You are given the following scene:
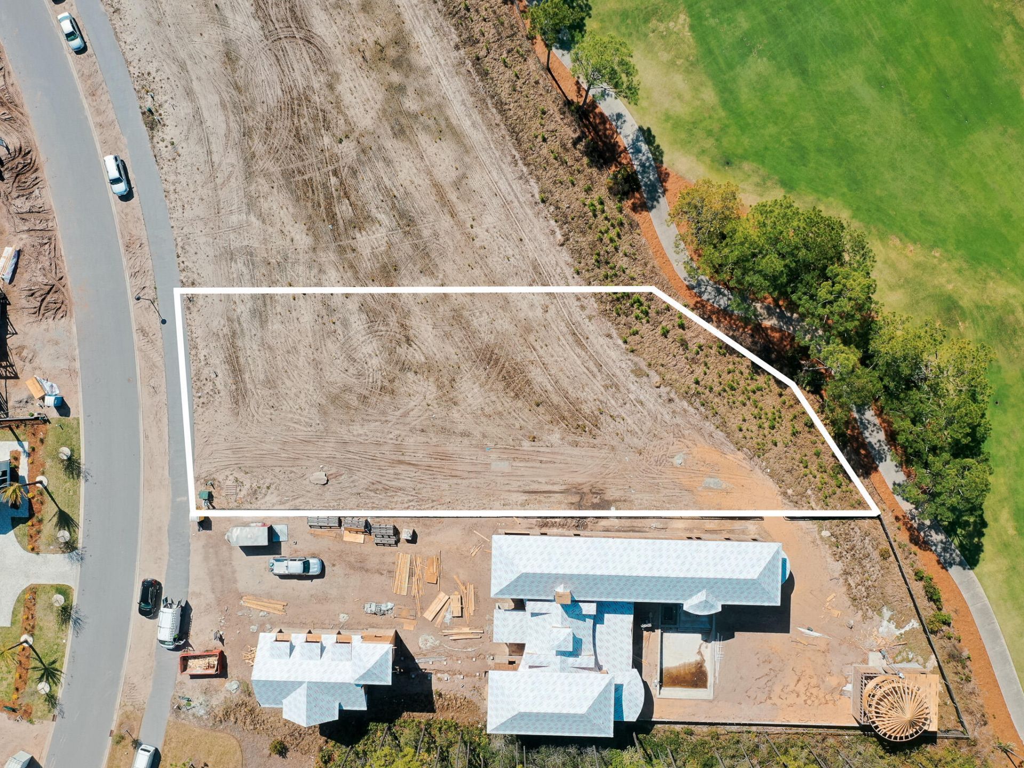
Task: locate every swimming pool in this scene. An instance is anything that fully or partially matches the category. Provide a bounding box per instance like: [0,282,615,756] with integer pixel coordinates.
[642,602,715,703]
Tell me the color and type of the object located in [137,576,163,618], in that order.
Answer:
black car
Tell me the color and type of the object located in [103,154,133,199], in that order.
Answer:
white car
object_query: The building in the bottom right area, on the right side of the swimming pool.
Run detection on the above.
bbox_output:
[854,652,941,742]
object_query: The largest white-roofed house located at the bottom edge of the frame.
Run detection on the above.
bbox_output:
[484,530,790,738]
